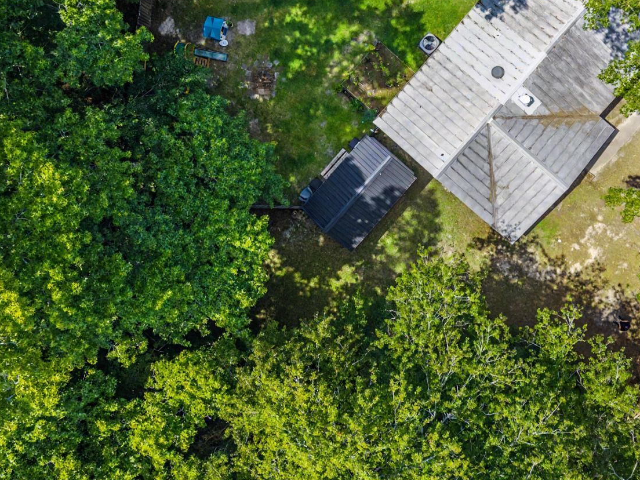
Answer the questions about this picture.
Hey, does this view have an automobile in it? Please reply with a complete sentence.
No, no automobile can be seen from above.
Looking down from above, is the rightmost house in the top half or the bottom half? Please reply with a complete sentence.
It is in the top half that the rightmost house appears.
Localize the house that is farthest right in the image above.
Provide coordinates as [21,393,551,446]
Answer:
[374,0,640,247]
